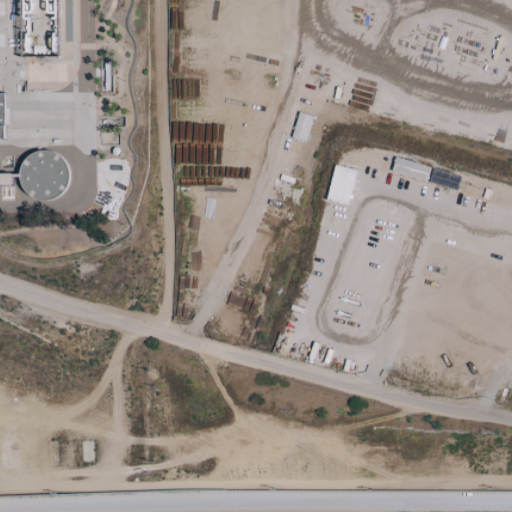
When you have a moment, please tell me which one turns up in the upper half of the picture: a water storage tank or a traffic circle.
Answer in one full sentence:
Looking in the upper half of the picture, you will find a water storage tank.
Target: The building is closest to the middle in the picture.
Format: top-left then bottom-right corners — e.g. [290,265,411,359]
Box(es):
[328,164,358,205]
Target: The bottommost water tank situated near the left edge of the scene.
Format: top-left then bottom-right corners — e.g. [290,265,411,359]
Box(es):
[12,148,72,201]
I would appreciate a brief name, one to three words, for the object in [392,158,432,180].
building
